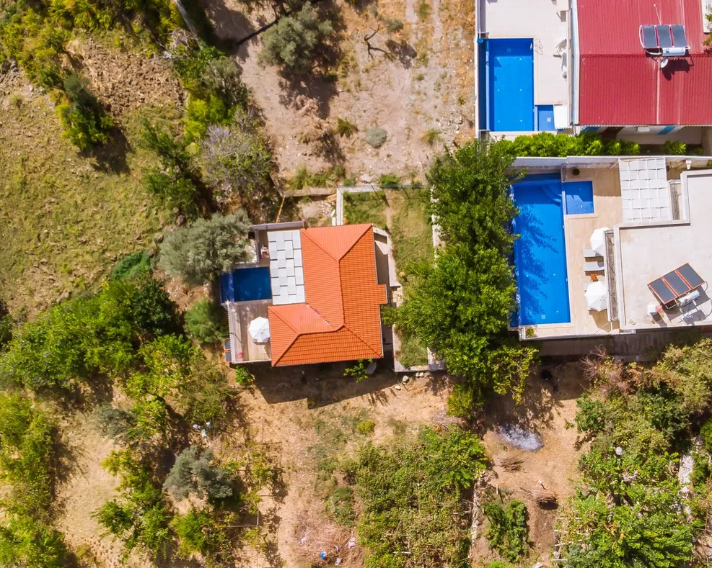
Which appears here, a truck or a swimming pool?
swimming pool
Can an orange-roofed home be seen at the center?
Yes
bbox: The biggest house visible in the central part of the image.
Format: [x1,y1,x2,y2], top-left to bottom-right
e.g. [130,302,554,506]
[268,223,388,366]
